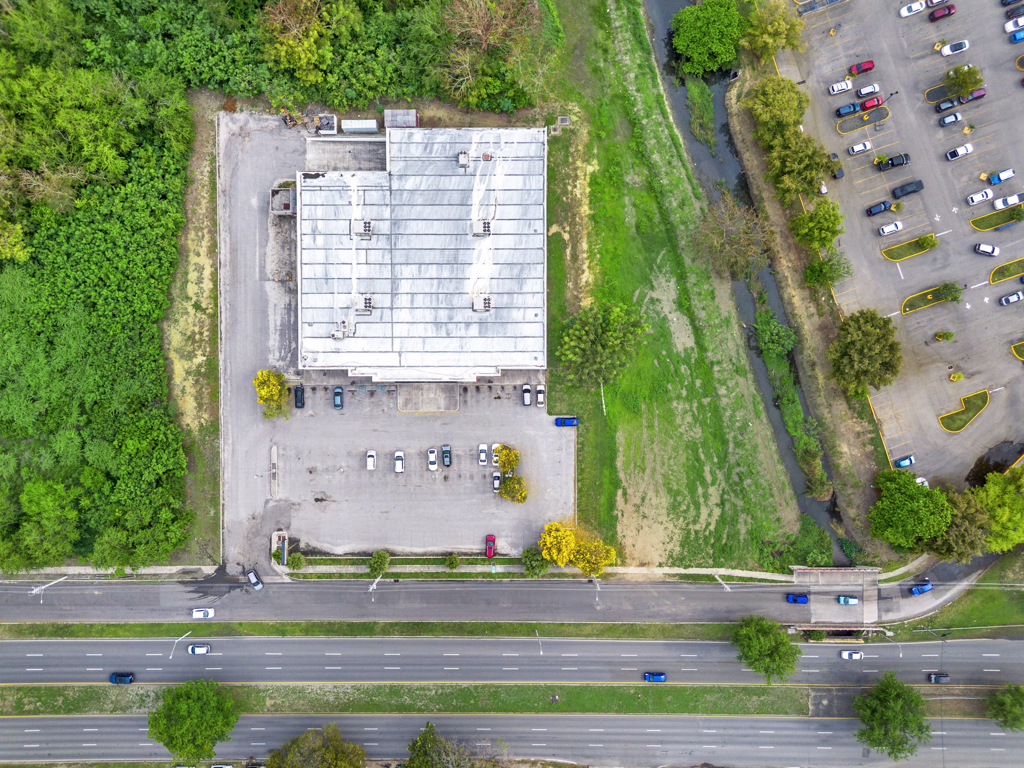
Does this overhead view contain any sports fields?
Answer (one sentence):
No, the frame has no sports field in it.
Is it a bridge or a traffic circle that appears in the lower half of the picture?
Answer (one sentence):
It is a bridge that can be seen in the lower half of the picture.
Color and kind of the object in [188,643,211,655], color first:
white vehicle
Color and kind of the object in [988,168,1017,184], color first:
white car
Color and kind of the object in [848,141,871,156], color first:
white car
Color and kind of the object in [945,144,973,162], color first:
white vehicle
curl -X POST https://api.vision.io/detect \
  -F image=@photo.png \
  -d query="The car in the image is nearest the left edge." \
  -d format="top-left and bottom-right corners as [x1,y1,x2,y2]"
[110,672,136,685]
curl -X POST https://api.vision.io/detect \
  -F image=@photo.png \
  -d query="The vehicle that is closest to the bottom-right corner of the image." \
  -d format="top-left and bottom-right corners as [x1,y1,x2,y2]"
[928,672,951,685]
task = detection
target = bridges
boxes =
[792,564,884,638]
